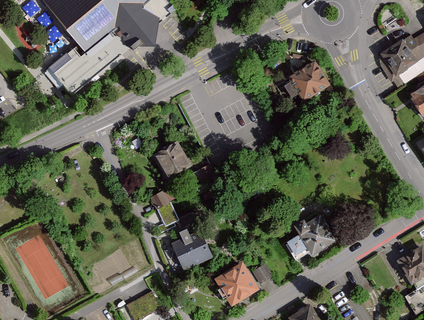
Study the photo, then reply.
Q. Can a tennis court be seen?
Yes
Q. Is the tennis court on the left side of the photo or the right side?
left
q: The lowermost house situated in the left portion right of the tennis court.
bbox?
[127,292,158,320]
